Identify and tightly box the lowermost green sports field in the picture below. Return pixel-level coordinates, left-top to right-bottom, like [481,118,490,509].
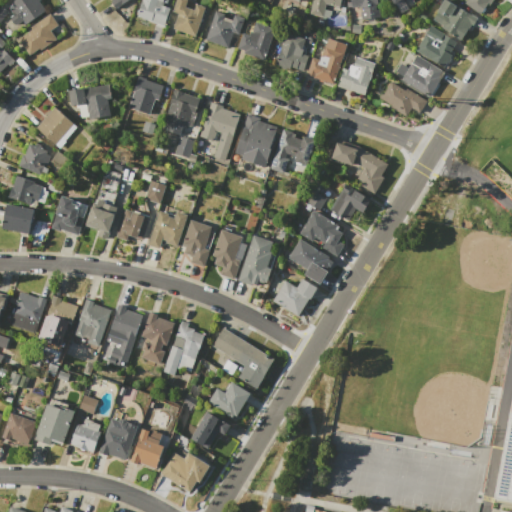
[338,222,512,448]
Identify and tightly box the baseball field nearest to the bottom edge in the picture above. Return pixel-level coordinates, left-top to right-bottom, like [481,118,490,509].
[414,372,489,447]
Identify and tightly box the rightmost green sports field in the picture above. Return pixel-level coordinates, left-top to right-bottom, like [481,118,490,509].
[462,56,512,172]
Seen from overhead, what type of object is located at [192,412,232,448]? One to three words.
house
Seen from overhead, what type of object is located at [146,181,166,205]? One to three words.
house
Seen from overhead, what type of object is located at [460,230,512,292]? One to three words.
baseball field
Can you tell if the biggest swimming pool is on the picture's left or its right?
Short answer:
left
